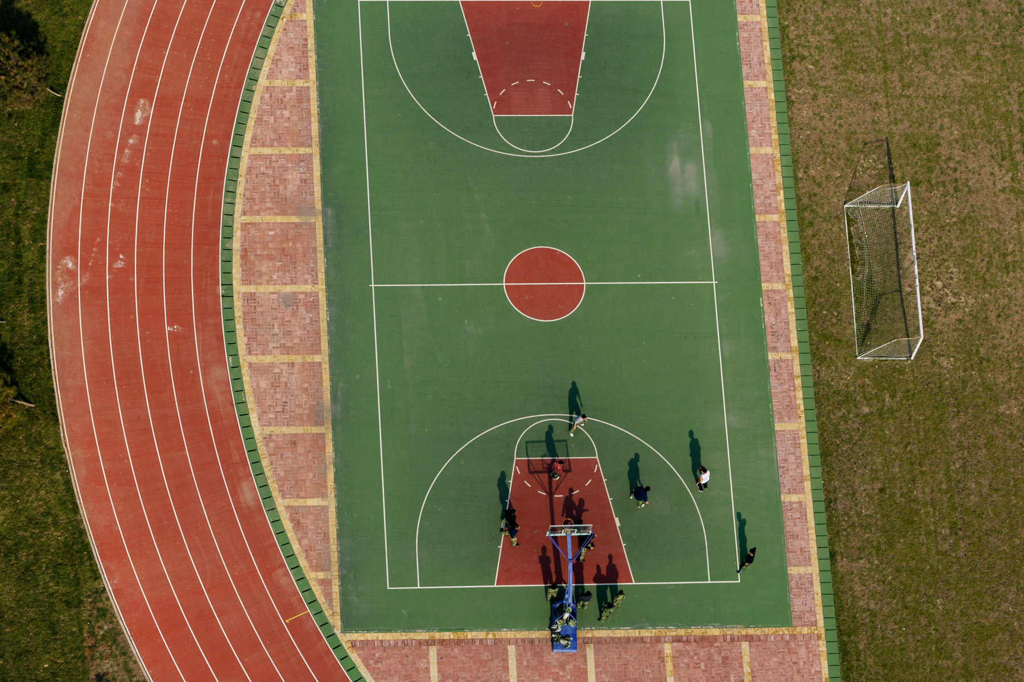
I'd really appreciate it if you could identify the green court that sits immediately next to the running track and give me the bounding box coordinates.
[313,0,792,632]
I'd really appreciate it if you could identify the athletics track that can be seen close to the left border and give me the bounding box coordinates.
[49,0,352,682]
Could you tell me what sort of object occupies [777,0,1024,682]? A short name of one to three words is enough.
sports field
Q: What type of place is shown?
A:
sports ground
